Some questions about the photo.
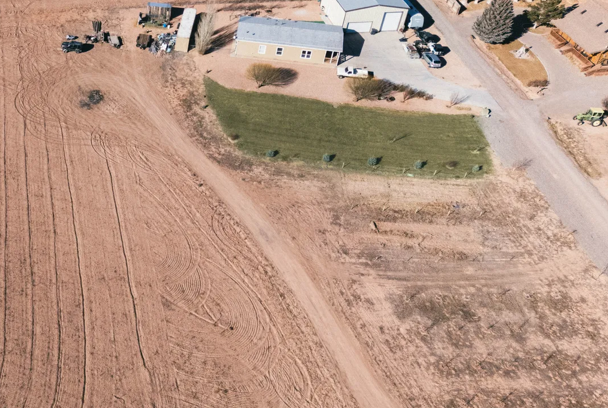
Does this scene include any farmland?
Yes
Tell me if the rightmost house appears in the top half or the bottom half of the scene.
top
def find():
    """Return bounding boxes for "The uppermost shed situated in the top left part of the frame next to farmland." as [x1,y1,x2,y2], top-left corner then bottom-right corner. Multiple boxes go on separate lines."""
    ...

[146,2,171,22]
